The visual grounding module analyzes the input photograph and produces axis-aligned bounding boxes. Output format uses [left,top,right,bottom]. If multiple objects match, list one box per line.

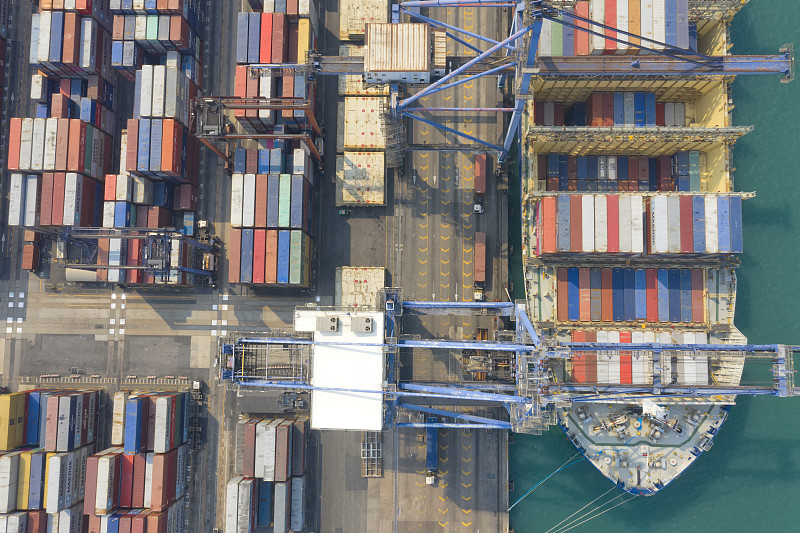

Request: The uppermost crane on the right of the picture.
[223,0,794,181]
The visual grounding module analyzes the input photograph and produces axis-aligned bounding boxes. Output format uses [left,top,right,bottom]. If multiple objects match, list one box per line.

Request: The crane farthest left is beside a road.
[60,224,220,281]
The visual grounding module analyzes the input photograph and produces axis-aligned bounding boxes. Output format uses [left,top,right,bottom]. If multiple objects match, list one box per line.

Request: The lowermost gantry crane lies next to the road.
[223,284,800,440]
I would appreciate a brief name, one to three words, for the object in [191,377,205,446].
vehicle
